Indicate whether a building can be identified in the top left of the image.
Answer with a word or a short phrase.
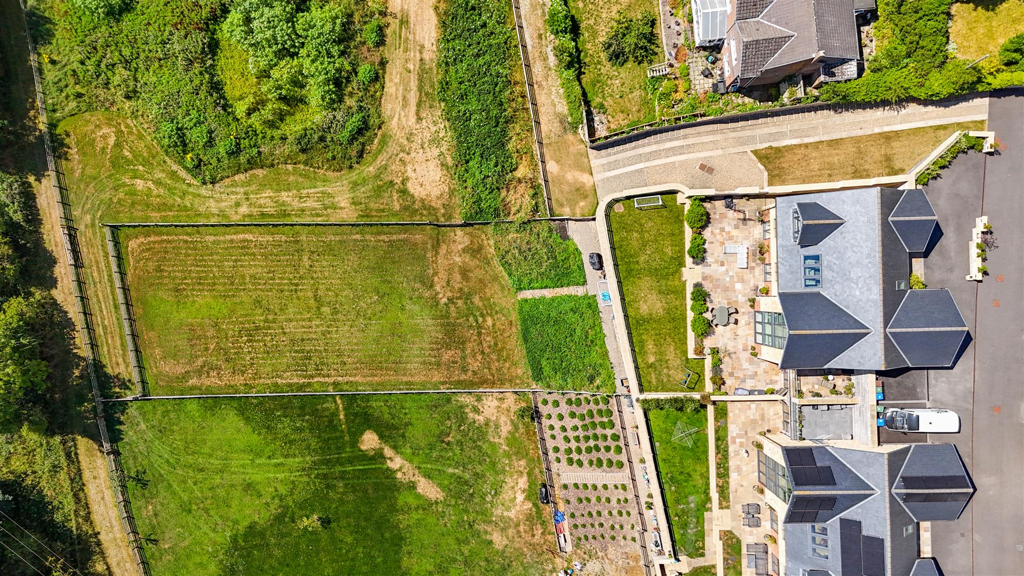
No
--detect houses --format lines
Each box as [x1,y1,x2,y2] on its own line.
[755,187,972,373]
[757,433,975,576]
[683,0,882,94]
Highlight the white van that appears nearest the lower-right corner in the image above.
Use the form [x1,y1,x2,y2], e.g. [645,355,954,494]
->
[883,406,961,435]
